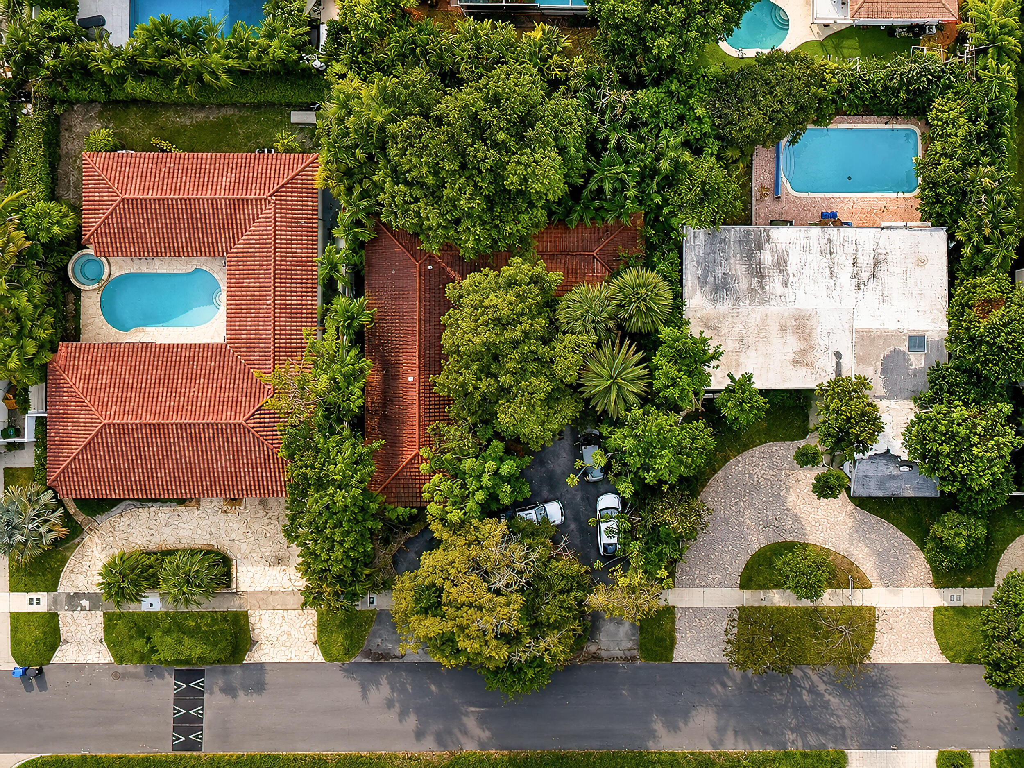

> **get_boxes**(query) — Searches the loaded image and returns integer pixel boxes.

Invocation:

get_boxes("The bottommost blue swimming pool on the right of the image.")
[780,124,922,196]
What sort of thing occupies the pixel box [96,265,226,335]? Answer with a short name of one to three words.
swimming pool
